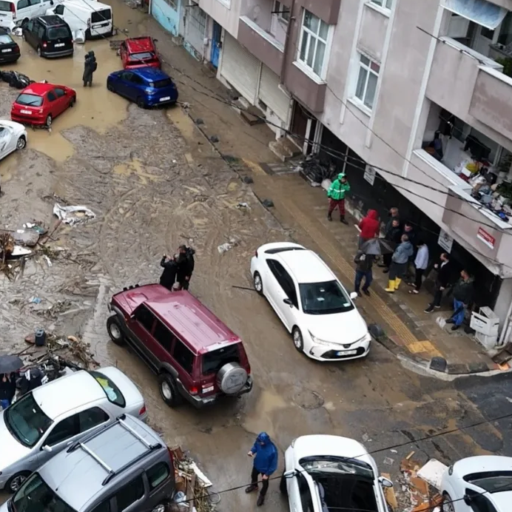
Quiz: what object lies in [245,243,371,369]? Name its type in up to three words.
car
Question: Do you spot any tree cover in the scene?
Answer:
No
